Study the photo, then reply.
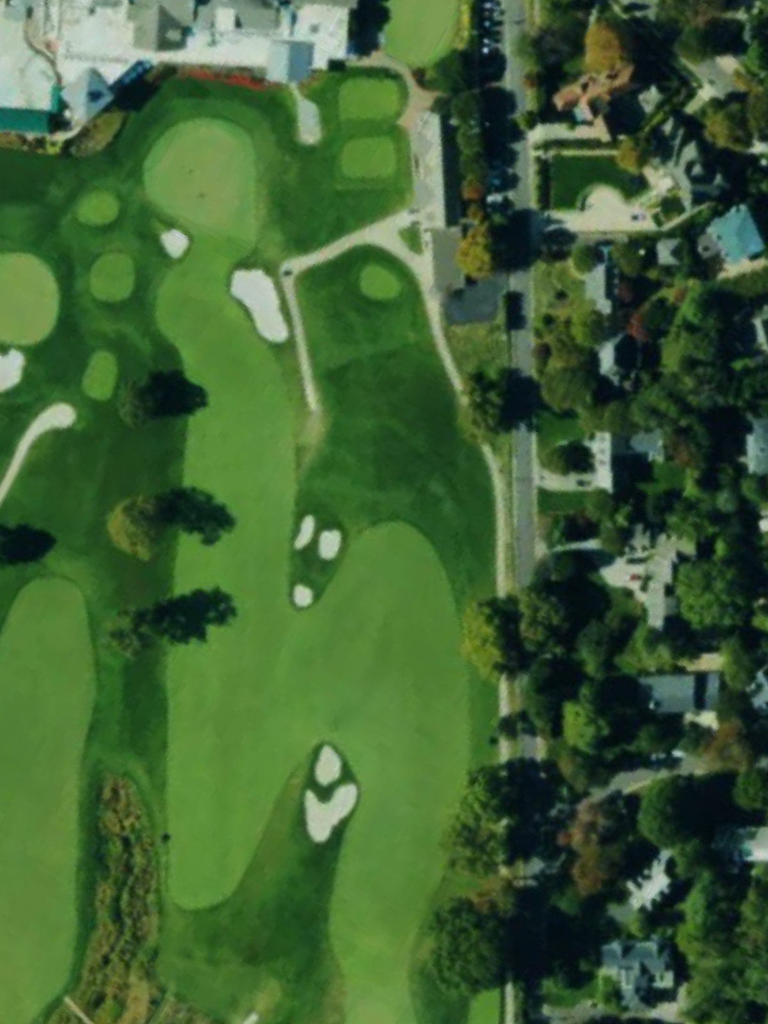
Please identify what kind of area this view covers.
golf course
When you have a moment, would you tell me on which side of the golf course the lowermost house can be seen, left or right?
to the right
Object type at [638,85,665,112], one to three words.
shed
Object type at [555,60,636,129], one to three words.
house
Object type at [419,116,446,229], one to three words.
building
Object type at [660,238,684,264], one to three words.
house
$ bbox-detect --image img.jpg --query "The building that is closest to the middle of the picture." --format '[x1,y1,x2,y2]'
[587,431,615,493]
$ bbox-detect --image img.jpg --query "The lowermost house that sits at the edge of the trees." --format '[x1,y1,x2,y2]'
[604,941,675,1008]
